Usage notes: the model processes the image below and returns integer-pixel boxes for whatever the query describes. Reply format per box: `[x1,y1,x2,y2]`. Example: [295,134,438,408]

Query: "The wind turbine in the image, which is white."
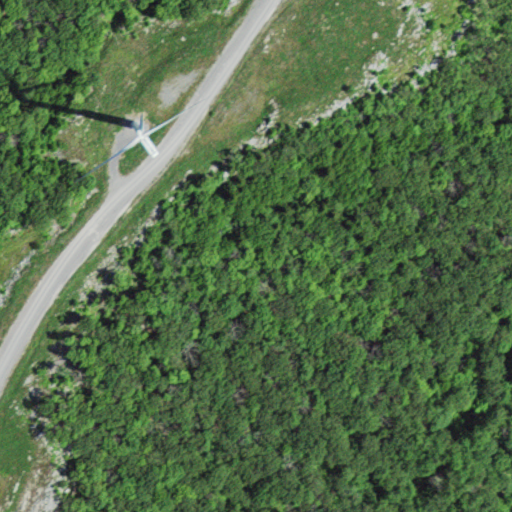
[66,96,202,183]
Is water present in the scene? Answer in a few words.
No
